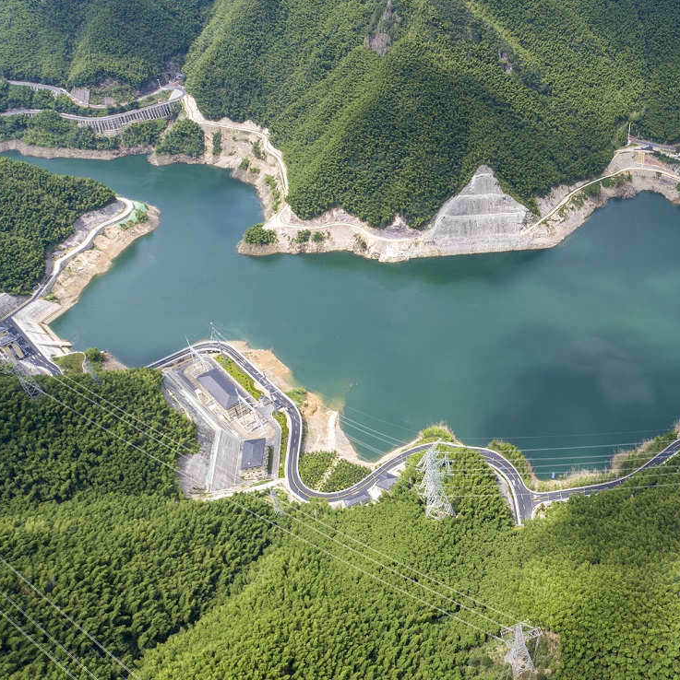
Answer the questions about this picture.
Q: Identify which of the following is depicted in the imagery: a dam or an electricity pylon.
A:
electricity pylon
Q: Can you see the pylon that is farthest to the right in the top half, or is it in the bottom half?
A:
bottom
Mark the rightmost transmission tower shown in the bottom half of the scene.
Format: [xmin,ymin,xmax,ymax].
[496,626,541,677]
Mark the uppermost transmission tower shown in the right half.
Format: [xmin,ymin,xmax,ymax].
[417,448,455,516]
